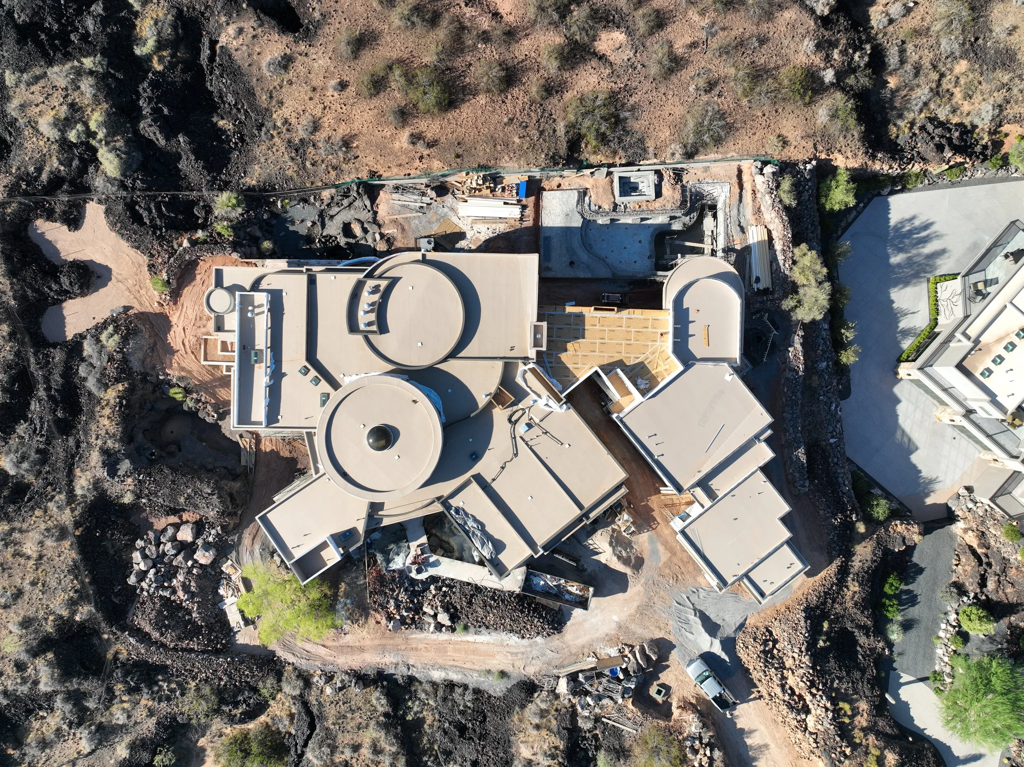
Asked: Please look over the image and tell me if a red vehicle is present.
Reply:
No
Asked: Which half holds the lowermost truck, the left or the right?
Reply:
right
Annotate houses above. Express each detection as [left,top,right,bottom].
[900,218,1024,531]
[205,250,810,606]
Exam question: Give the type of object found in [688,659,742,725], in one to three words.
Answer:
truck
